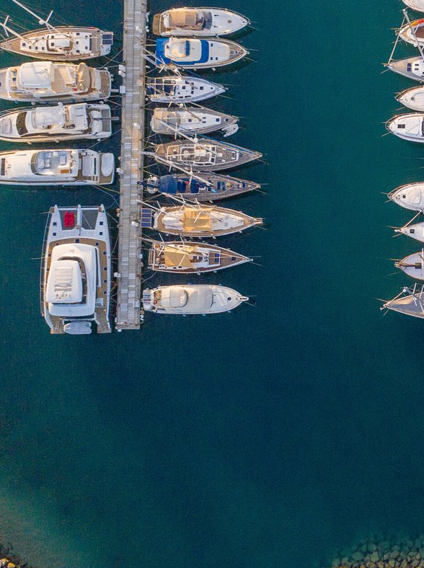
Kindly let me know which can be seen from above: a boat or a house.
boat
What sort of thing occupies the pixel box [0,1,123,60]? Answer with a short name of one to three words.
boat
